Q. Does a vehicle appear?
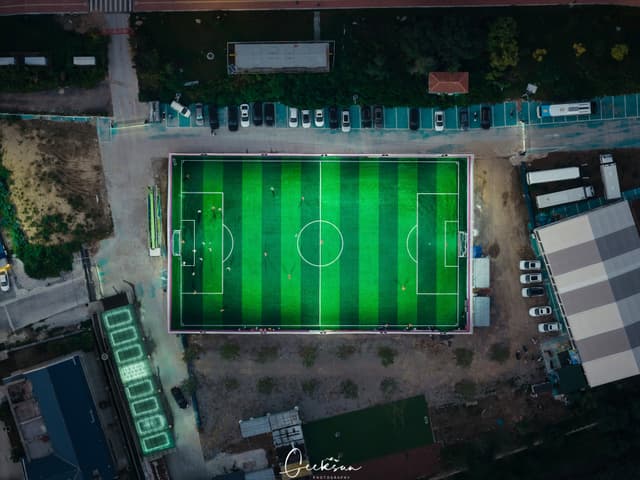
Yes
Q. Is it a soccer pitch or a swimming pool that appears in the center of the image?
soccer pitch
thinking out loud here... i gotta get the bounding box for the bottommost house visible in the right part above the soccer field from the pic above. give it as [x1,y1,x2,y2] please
[429,72,468,95]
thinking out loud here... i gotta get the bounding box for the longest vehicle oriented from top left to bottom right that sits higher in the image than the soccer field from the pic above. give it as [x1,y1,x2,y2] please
[169,99,193,120]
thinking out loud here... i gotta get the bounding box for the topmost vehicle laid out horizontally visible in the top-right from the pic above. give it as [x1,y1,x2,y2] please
[539,102,596,119]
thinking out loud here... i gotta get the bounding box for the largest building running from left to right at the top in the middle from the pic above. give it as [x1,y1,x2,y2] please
[228,42,335,77]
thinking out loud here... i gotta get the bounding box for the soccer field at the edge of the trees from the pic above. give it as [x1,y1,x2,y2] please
[171,155,470,332]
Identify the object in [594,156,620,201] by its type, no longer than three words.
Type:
truck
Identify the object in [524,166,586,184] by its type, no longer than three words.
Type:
vehicle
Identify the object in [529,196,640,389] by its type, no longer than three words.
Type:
warehouse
